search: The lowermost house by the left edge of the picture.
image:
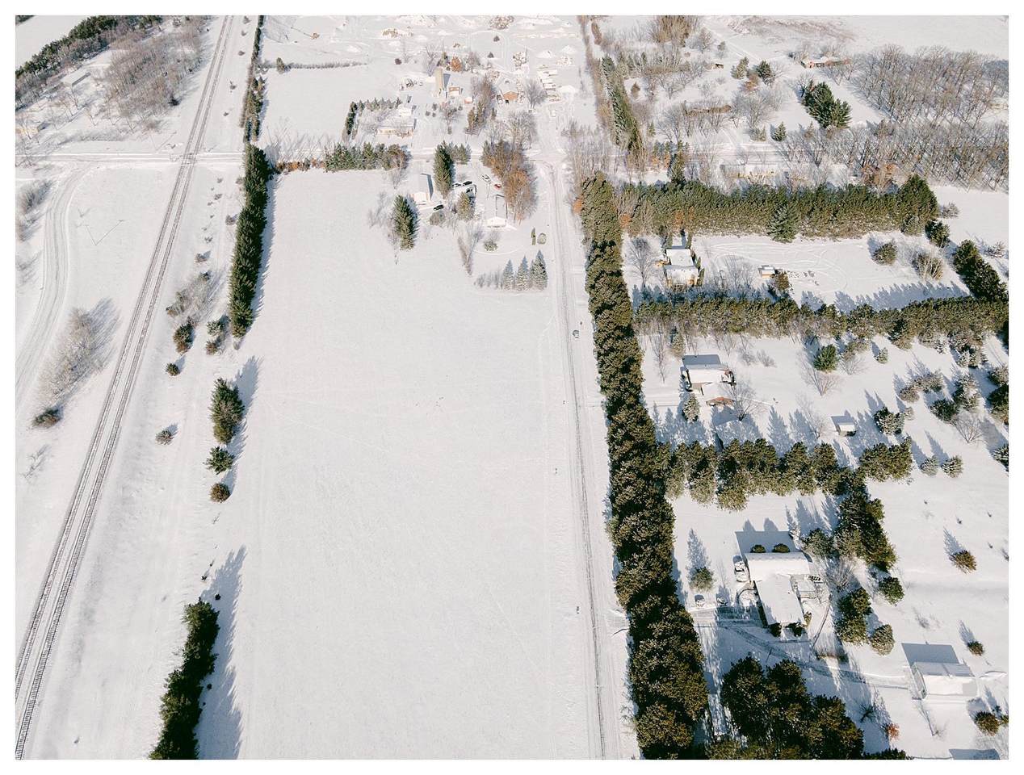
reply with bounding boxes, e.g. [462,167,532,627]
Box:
[5,119,49,135]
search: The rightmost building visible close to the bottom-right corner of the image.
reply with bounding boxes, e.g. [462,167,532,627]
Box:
[913,664,979,700]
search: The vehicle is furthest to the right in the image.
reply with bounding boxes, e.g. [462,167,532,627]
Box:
[732,558,746,581]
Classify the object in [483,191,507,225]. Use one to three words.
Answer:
house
